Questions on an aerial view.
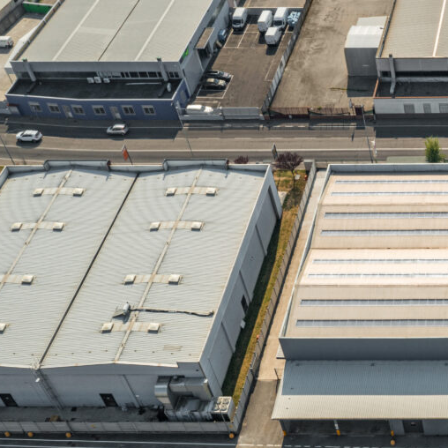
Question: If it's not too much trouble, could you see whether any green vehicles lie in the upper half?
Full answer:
No, no green vehicle is visible in the upper half.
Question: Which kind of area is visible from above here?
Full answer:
What you see here is an industrial area.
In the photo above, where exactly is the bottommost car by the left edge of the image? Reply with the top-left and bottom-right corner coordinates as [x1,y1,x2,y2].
[14,128,44,142]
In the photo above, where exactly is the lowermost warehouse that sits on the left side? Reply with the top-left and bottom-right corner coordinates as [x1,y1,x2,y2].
[0,159,277,408]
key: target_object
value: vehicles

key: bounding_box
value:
[270,3,289,30]
[261,26,282,49]
[203,76,229,88]
[204,68,233,79]
[14,128,44,142]
[214,29,233,41]
[104,123,131,135]
[0,34,15,48]
[229,5,247,31]
[254,11,273,33]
